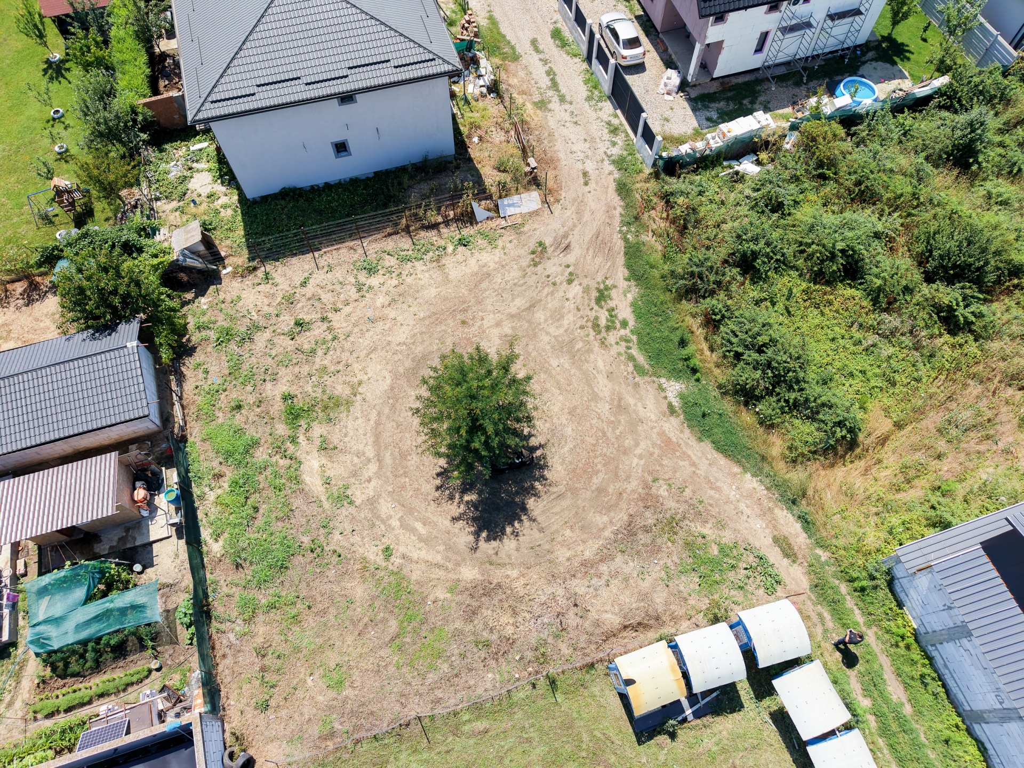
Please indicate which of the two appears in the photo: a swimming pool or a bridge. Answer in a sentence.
It is a swimming pool that can be seen here.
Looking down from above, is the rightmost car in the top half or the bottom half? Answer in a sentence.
You can find the rightmost car in the top half.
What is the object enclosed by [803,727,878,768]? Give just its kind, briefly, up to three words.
building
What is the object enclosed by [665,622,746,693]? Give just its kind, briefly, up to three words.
building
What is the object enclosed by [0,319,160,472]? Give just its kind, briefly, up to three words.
shed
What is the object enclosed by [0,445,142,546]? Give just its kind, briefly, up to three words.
shed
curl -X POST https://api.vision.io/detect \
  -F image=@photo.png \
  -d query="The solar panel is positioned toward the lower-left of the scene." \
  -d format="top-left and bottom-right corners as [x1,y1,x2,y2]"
[77,719,128,753]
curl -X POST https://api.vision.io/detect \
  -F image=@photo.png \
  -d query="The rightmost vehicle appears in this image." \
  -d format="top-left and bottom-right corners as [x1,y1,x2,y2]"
[597,10,648,67]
